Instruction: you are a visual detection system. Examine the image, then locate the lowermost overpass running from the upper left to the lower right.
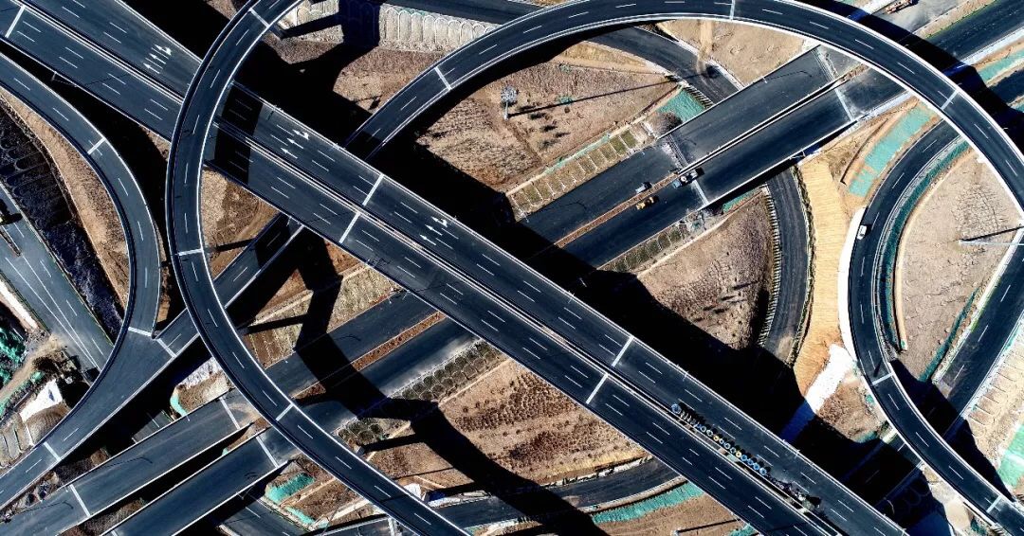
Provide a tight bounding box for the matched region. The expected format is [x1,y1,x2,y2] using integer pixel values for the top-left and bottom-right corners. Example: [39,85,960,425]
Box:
[870,372,1024,536]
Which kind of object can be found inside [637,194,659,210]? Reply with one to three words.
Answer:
work vehicle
